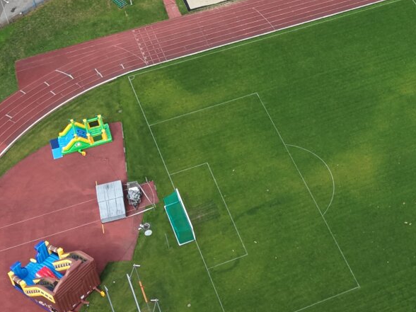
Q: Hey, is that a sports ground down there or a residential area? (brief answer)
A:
sports ground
